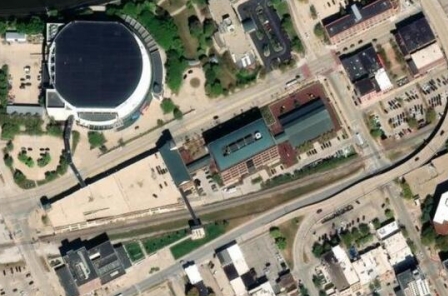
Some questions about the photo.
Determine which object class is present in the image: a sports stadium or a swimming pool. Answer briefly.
sports stadium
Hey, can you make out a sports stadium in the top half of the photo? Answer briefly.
Yes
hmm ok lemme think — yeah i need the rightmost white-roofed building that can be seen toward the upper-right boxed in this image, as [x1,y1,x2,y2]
[412,43,445,75]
